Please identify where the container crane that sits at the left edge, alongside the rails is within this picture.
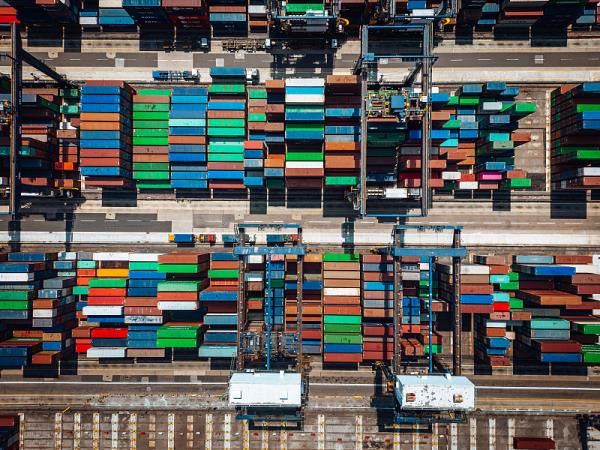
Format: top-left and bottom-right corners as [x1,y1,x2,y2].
[0,18,104,216]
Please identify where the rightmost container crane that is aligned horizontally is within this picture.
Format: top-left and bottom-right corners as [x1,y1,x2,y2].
[368,0,462,42]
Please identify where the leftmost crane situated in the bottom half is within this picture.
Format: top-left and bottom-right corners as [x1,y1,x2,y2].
[227,226,309,424]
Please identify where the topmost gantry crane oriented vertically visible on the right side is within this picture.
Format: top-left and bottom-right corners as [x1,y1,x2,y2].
[340,22,442,217]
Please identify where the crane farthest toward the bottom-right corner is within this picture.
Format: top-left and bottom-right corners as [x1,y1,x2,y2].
[373,227,477,426]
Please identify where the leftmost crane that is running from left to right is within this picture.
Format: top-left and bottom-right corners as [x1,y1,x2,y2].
[262,0,350,42]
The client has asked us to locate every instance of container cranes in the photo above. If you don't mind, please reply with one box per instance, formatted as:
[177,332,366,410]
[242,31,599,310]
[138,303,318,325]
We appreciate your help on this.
[0,18,104,216]
[368,0,462,42]
[373,227,477,426]
[227,226,309,424]
[340,22,442,217]
[262,0,350,42]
